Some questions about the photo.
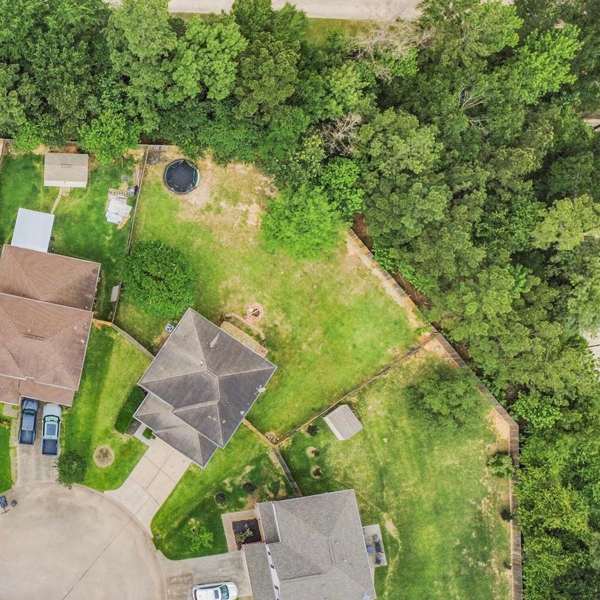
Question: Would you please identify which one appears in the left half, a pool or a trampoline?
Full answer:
Visible in the left half is a trampoline.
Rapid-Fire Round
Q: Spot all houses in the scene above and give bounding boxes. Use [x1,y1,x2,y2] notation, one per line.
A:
[133,307,277,468]
[242,489,377,600]
[0,244,101,408]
